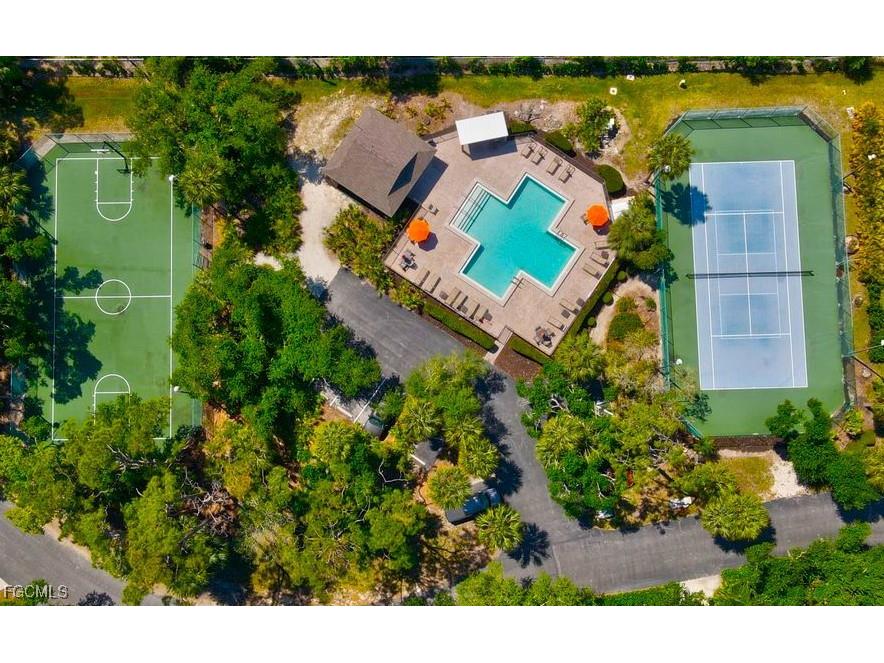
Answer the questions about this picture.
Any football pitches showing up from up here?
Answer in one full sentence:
No, no football pitch is visible in the view.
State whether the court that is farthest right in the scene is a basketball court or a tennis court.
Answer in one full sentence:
Specifically, the court that is farthest right is a tennis court.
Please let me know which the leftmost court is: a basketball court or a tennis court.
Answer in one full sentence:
I'd say the leftmost court is a basketball court.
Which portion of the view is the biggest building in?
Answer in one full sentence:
You can find the biggest building in the top area of the picture.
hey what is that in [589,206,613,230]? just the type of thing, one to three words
umbrella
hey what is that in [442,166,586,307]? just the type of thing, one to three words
swimming pool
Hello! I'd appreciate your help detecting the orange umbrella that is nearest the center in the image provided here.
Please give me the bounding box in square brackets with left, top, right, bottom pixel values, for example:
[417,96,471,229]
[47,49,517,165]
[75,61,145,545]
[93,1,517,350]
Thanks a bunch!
[406,221,431,246]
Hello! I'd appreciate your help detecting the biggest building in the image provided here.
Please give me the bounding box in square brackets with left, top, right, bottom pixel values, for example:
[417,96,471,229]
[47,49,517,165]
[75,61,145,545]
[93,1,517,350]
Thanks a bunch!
[323,106,436,216]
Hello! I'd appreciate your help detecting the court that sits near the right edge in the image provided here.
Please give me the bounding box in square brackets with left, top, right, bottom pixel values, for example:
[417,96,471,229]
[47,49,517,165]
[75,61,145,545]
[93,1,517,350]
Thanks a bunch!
[659,117,846,437]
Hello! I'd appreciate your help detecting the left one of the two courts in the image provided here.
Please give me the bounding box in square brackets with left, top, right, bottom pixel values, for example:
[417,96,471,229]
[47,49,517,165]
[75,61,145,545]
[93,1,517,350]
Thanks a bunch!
[23,142,201,463]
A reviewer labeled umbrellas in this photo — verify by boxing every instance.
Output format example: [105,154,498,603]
[589,206,613,230]
[406,221,431,246]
